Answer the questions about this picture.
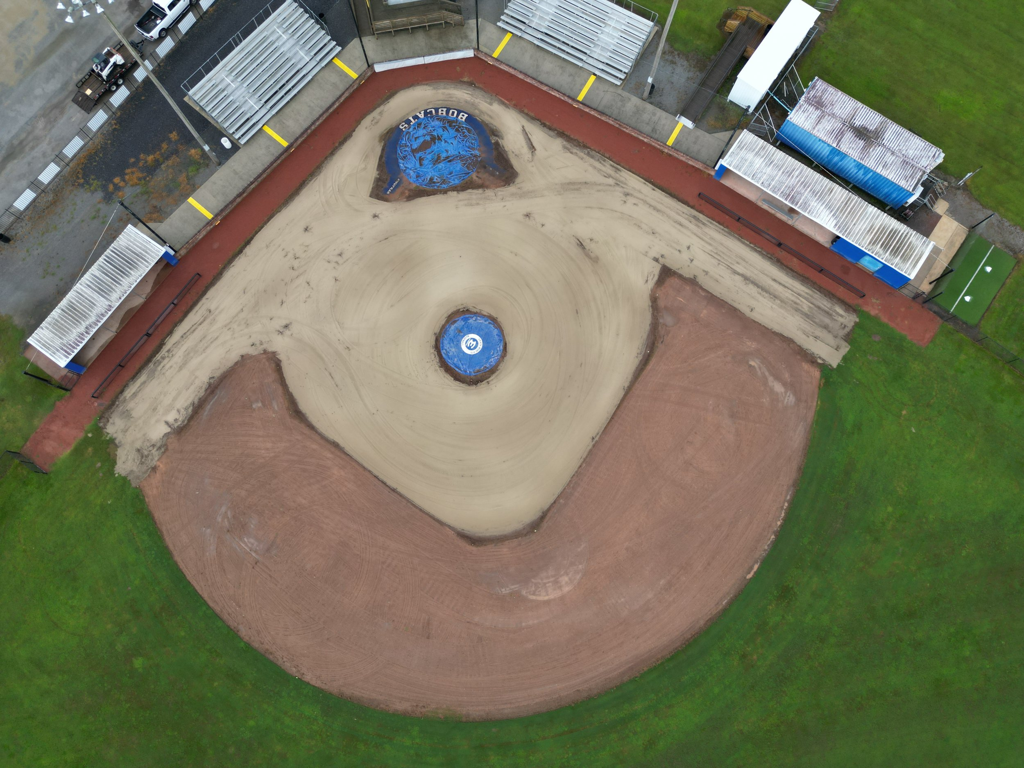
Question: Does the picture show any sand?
Yes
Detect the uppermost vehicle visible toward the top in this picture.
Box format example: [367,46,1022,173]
[133,0,198,43]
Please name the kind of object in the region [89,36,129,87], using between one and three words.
work vehicle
